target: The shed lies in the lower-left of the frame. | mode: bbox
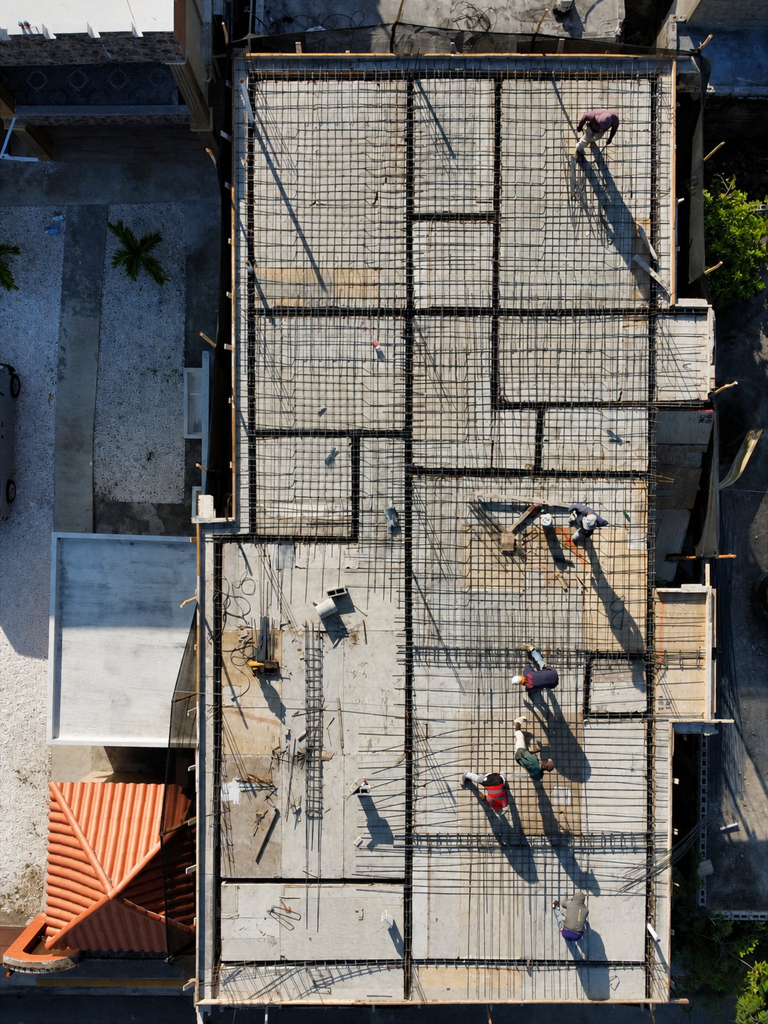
[44,768,167,958]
